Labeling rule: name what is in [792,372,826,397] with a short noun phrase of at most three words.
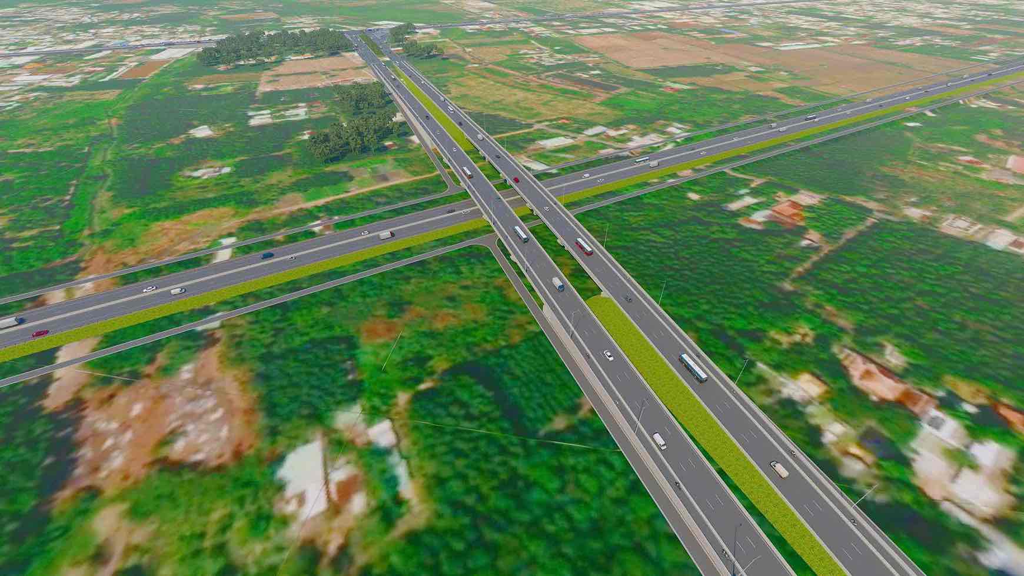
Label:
house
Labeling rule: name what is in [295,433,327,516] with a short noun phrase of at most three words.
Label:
shed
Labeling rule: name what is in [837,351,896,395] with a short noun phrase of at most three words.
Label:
building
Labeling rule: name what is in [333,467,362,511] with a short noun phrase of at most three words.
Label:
shed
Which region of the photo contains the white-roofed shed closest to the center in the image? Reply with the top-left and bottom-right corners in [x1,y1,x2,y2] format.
[537,137,574,150]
